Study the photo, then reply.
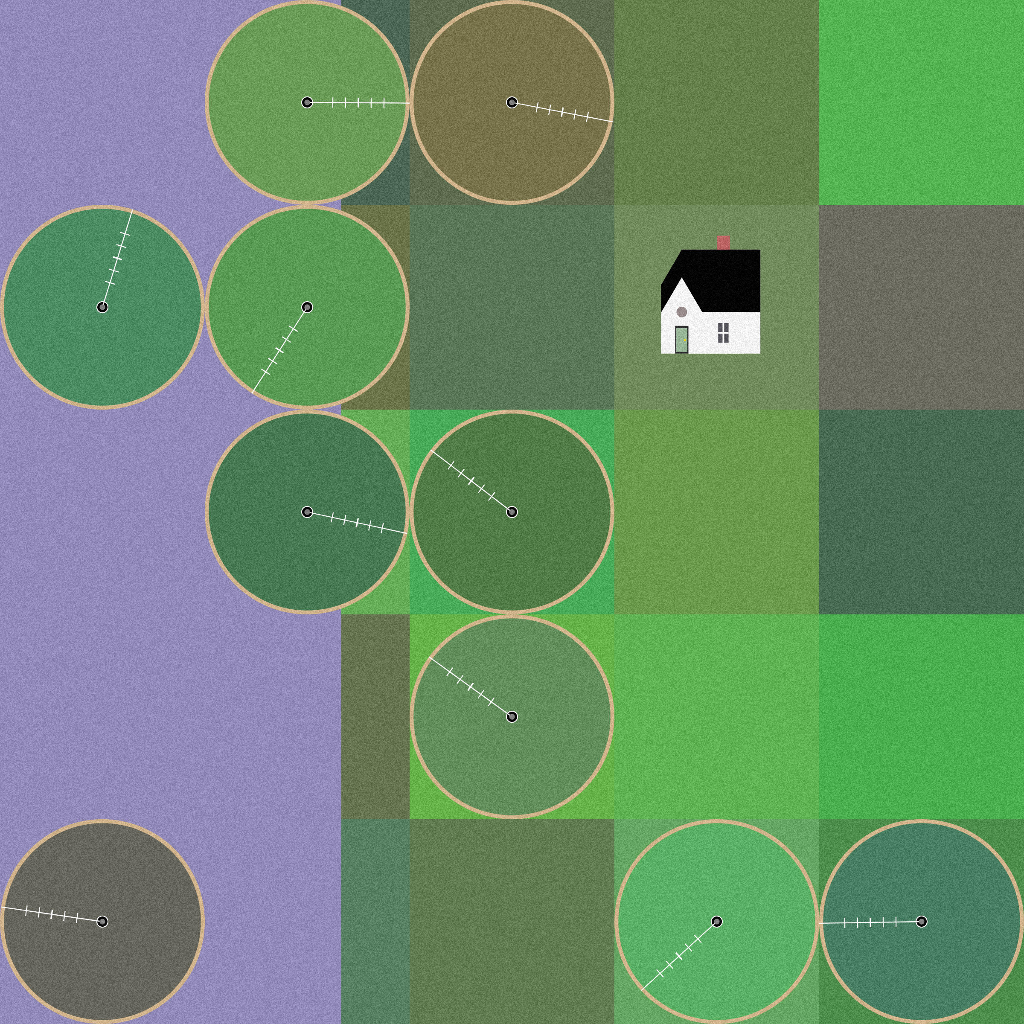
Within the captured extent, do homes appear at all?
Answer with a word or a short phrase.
Yes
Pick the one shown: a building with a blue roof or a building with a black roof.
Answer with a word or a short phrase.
building with a black roof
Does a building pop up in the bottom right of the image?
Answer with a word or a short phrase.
No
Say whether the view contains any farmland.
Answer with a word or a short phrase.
Yes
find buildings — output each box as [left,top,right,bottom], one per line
[661,236,761,354]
